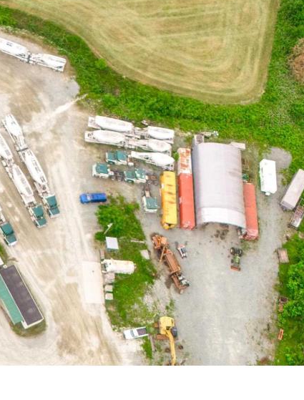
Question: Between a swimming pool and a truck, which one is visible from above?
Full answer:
The image shows a truck.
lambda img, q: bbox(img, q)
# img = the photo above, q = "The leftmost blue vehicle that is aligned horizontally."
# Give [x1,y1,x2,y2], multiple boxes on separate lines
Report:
[78,193,107,206]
